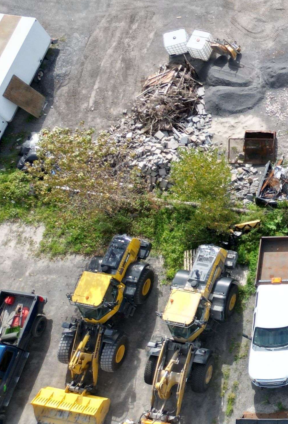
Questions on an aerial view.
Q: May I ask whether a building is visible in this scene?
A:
No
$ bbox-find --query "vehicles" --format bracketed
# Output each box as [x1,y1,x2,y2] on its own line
[121,238,246,424]
[0,16,55,112]
[0,287,51,424]
[235,233,288,393]
[22,224,164,424]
